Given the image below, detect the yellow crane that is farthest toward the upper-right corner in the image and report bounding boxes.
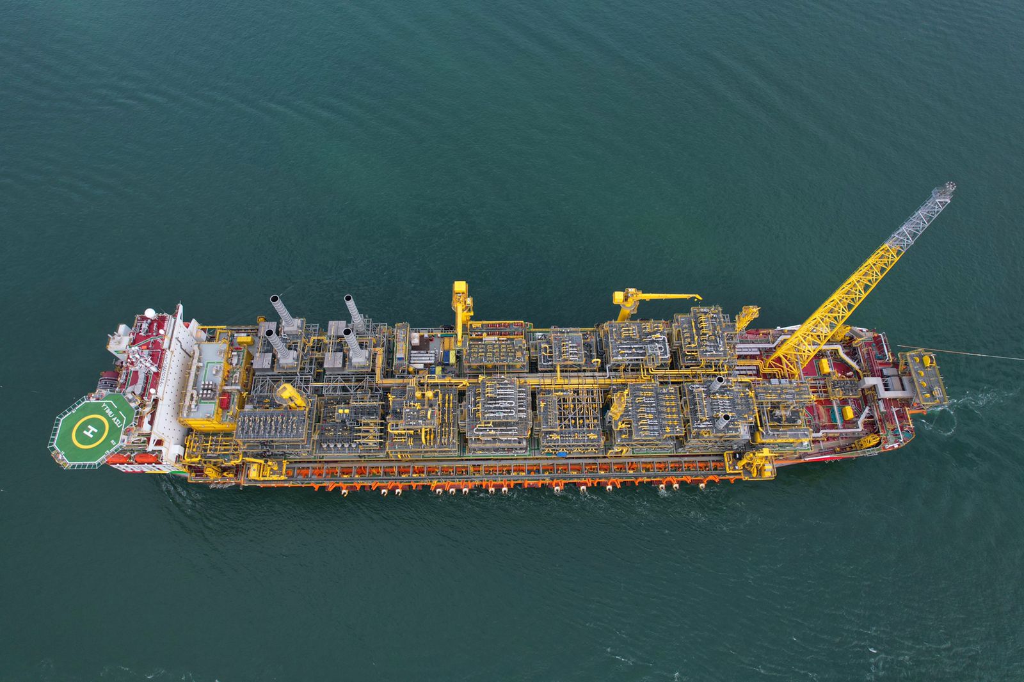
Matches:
[612,286,702,321]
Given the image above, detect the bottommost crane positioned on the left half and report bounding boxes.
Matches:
[242,457,293,483]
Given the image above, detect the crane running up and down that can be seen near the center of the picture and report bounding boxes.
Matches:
[453,281,474,354]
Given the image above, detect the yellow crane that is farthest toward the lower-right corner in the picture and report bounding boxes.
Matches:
[723,446,781,481]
